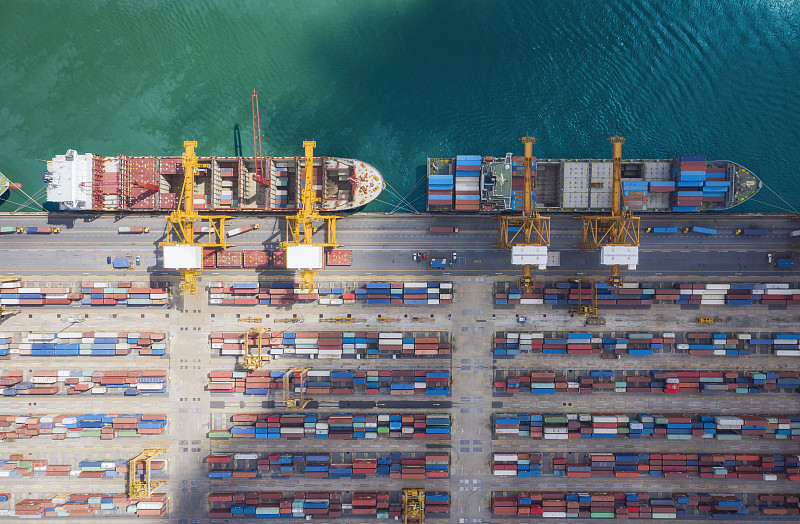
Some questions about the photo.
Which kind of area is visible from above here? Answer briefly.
port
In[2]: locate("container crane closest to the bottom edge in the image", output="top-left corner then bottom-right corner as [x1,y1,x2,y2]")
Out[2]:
[400,487,426,524]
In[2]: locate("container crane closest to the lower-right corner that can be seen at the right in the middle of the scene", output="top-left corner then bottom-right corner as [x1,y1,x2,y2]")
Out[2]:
[566,277,600,319]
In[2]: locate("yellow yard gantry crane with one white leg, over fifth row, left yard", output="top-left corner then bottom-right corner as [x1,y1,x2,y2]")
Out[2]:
[133,449,168,499]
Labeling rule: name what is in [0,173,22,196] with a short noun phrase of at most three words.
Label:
ship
